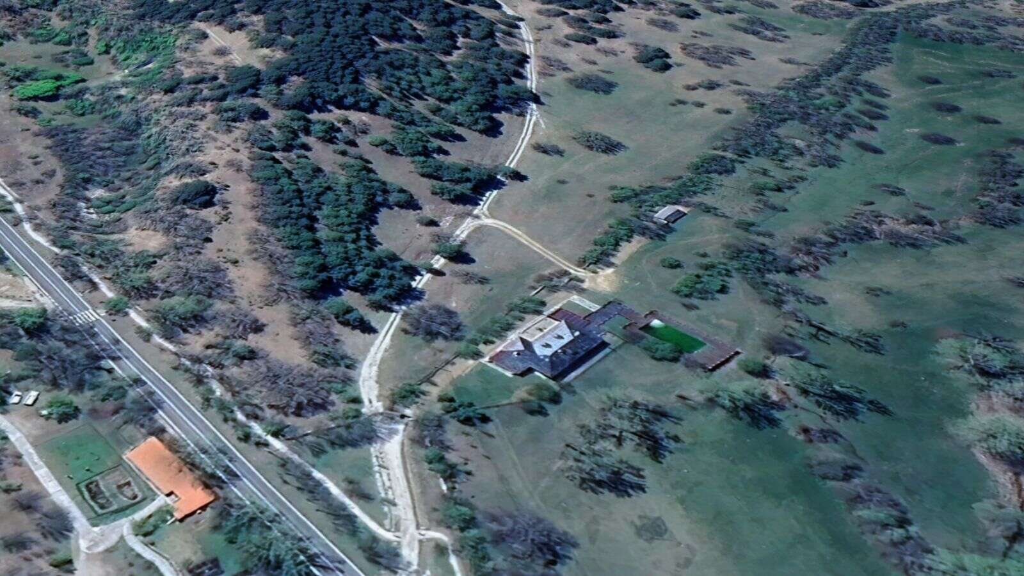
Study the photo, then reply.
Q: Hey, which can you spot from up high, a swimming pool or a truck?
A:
swimming pool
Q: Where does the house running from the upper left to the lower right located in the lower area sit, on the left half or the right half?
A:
left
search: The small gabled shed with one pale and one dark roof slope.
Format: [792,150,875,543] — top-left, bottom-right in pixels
[649,209,686,233]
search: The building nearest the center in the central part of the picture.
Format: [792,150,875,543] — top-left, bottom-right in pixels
[490,306,605,380]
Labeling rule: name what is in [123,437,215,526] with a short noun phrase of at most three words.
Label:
house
